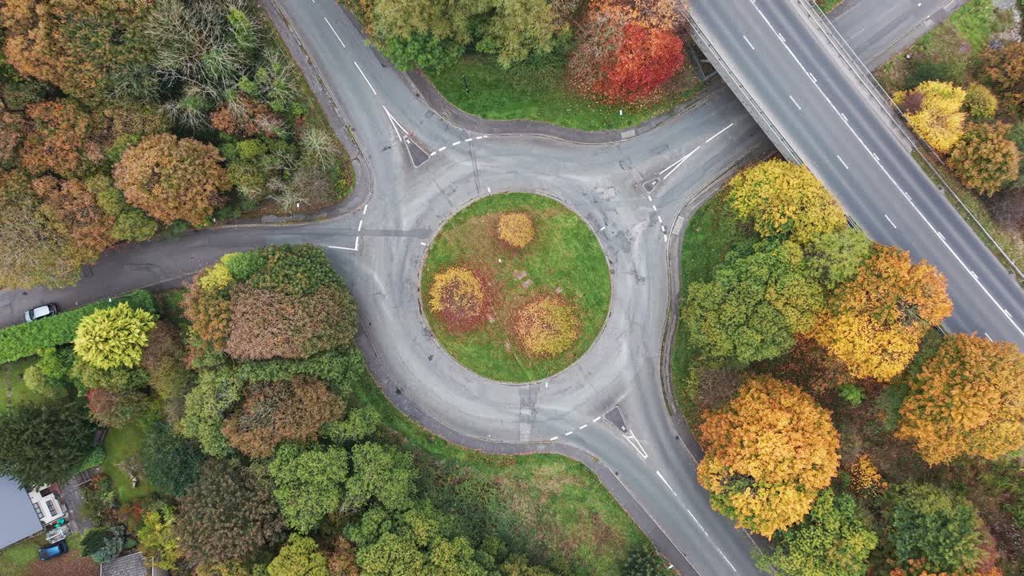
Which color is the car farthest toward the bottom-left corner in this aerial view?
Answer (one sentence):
The car farthest toward the bottom-left corner is blue.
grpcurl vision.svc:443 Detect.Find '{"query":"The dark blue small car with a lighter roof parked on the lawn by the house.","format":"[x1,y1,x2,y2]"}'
[40,539,72,560]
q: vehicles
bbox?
[27,302,61,319]
[40,539,72,560]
